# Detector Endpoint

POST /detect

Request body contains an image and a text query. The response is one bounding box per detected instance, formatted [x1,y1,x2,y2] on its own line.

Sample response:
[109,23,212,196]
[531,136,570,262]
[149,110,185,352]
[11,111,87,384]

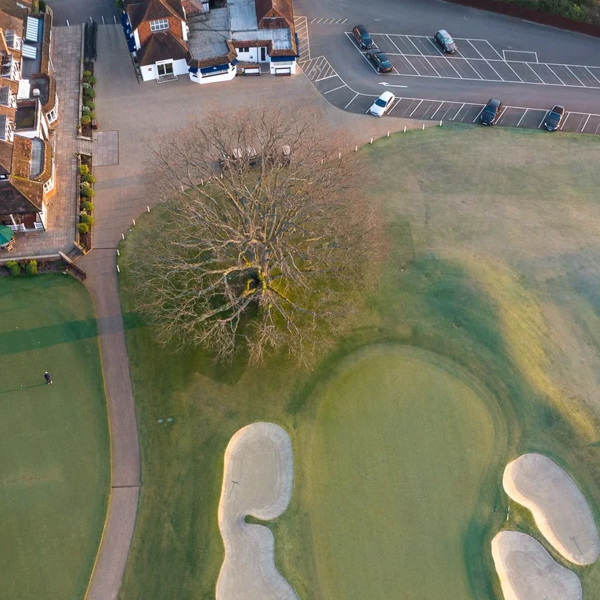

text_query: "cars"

[354,21,375,46]
[372,88,395,112]
[545,102,568,127]
[369,48,393,71]
[437,28,457,50]
[482,95,505,122]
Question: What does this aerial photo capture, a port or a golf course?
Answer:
golf course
